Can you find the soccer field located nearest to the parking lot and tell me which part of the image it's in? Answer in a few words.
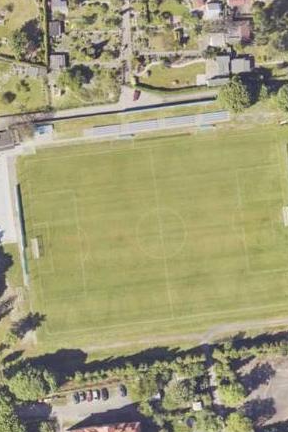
center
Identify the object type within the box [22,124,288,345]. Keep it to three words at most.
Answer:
soccer field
